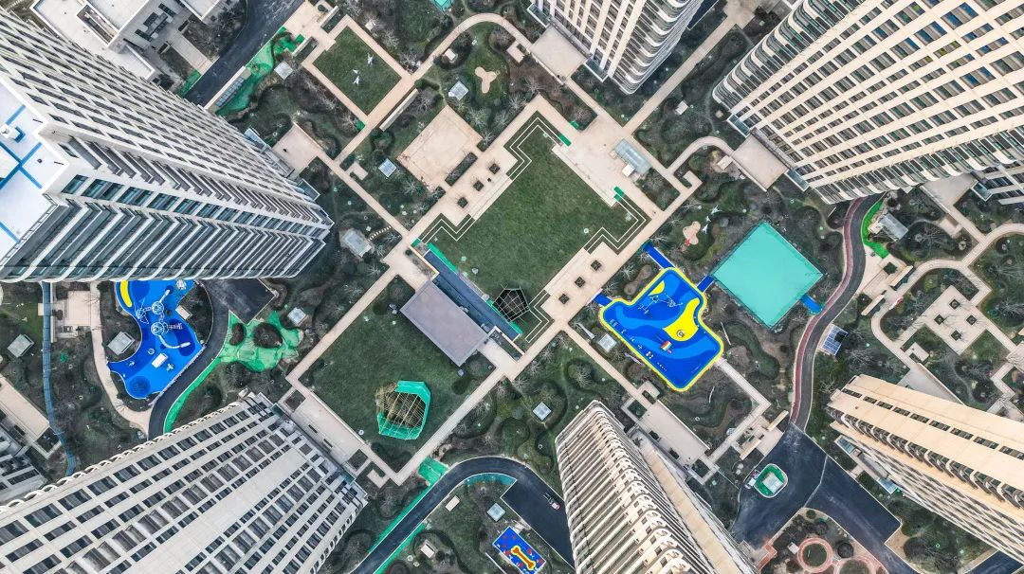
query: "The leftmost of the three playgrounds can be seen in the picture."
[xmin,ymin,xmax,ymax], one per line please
[107,272,204,399]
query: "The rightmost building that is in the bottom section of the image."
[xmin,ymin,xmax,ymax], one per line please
[825,374,1024,563]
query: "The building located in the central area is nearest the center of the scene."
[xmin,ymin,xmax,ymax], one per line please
[400,279,488,367]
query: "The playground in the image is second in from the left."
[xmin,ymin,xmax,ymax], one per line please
[492,526,546,574]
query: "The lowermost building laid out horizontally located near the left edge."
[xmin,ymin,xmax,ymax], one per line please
[0,400,362,574]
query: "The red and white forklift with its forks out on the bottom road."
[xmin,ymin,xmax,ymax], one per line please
[540,490,560,509]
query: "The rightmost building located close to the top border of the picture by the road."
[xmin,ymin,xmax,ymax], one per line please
[719,0,1024,199]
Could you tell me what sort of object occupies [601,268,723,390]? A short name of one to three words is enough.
playground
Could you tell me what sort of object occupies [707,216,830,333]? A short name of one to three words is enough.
sports court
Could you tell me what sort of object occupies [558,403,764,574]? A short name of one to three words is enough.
building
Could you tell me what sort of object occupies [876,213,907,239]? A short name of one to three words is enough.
shed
